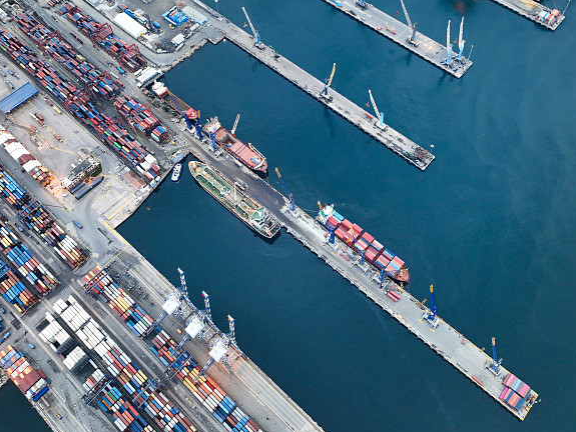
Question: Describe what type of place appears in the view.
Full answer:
It's a port.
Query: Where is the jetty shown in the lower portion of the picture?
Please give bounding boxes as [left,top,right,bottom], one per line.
[208,151,538,421]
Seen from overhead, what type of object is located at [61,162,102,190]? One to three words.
building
